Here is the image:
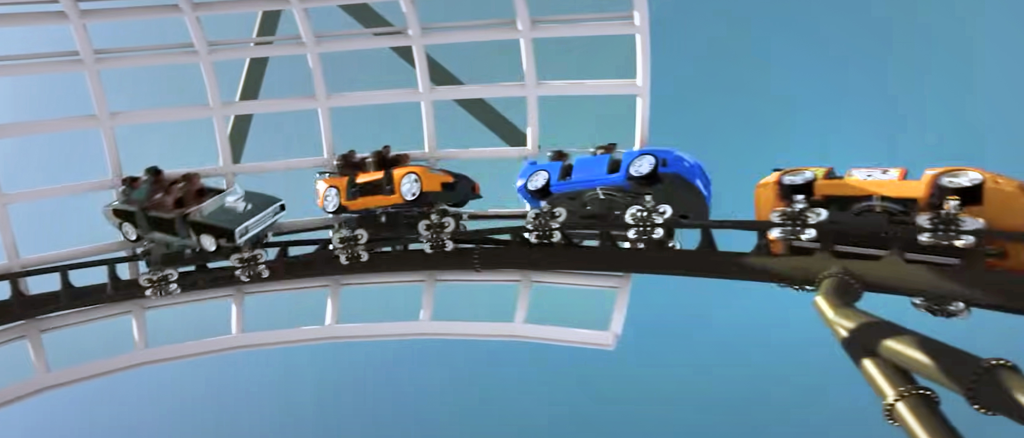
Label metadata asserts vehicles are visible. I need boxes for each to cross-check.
[750,167,1024,337]
[520,148,715,250]
[105,178,290,294]
[319,159,486,260]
